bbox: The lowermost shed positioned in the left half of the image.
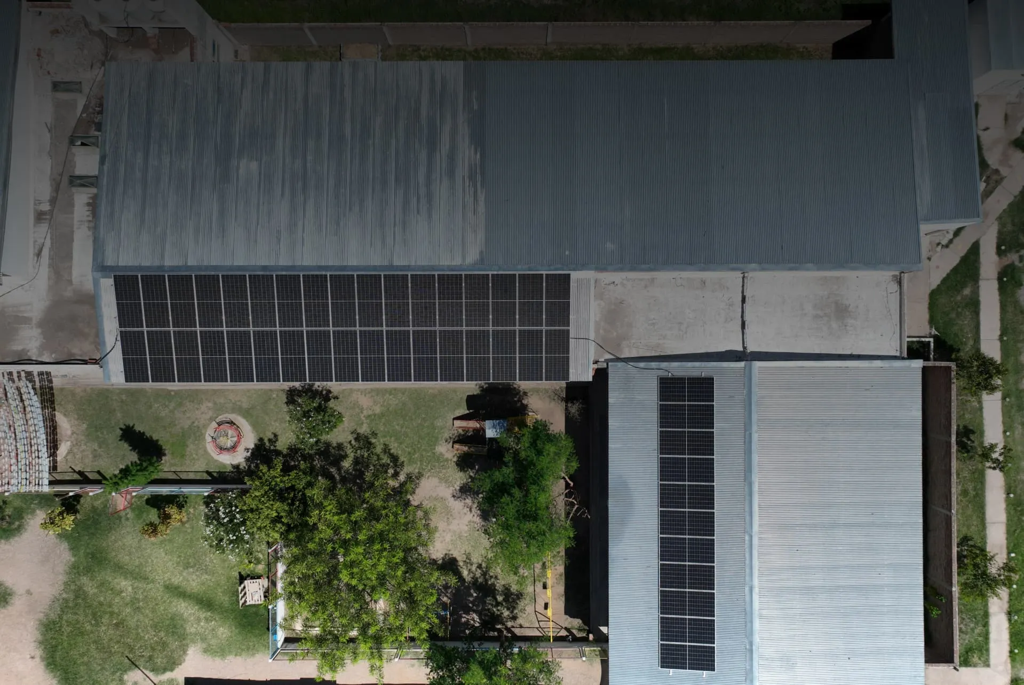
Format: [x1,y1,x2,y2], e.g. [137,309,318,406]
[0,371,70,491]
